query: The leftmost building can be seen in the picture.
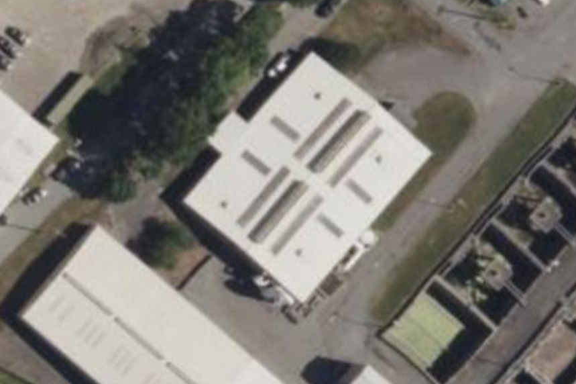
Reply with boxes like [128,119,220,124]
[0,88,59,209]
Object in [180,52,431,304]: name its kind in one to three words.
building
